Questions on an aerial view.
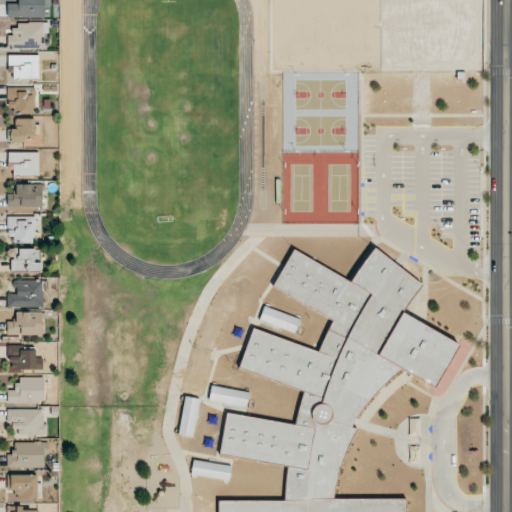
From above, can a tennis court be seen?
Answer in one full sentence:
Yes, there's a tennis court here.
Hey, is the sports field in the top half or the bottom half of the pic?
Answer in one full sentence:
The sports field is in the top half of the image.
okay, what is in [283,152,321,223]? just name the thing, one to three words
tennis court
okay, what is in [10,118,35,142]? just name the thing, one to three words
house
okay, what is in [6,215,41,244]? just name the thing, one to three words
house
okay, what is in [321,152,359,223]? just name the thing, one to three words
tennis court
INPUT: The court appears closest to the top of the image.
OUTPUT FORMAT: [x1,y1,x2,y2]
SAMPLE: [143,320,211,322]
[283,72,359,113]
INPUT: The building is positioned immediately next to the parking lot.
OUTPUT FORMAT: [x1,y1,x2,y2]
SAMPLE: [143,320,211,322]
[218,247,460,512]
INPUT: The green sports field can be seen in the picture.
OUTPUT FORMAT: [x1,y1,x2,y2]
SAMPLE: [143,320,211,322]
[97,0,239,265]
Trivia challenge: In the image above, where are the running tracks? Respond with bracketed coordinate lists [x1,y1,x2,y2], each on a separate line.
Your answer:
[83,0,253,279]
